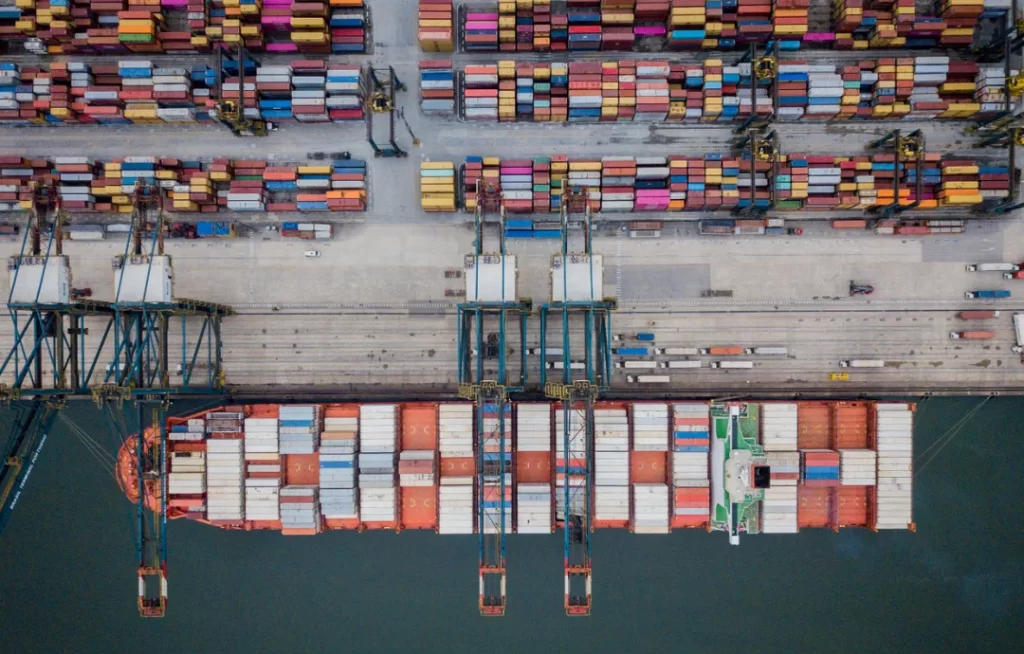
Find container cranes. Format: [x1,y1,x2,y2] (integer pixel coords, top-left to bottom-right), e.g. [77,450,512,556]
[726,128,780,224]
[531,179,616,614]
[213,45,270,147]
[106,179,250,614]
[967,37,1024,139]
[368,62,411,157]
[0,179,160,529]
[456,179,533,614]
[972,127,1024,223]
[729,44,783,146]
[971,0,1024,51]
[861,128,927,224]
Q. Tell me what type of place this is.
port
